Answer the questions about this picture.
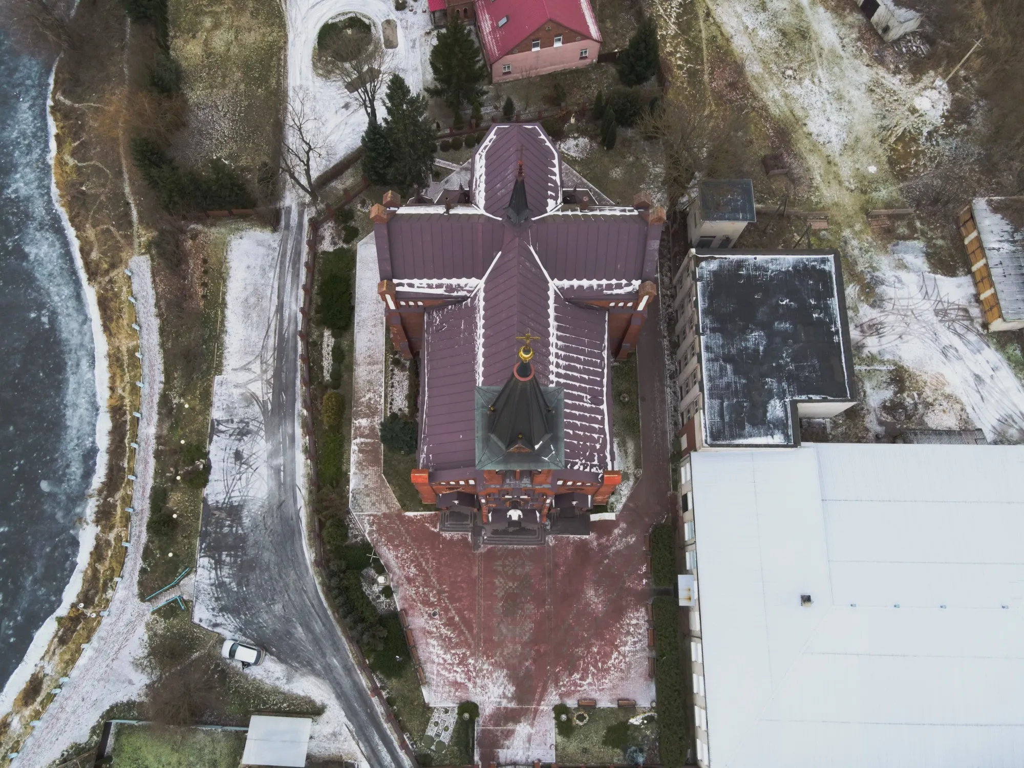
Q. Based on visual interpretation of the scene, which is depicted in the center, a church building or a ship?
church building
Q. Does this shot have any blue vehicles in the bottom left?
No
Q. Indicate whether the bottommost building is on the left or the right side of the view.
left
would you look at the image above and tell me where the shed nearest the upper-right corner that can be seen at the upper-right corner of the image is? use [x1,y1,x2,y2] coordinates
[859,0,919,43]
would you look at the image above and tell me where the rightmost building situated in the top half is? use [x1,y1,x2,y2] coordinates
[963,193,1024,329]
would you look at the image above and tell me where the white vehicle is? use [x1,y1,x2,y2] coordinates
[218,641,270,675]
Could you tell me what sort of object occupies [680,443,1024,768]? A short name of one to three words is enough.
building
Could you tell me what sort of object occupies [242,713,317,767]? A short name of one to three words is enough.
building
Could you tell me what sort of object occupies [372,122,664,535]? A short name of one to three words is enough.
church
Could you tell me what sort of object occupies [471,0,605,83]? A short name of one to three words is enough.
house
